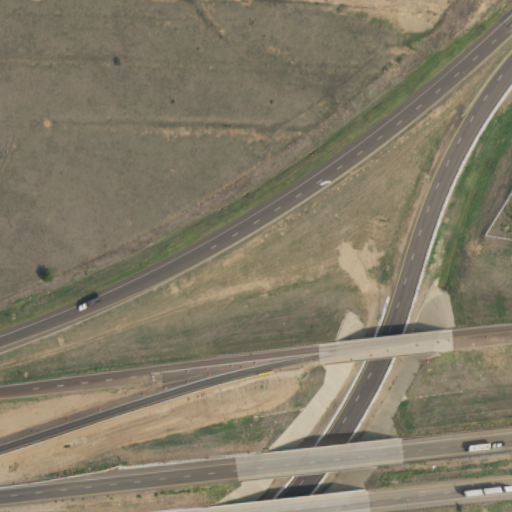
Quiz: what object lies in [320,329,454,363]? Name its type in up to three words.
overpass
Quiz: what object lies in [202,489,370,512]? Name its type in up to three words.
overpass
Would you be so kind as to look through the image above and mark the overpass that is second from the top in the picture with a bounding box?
[236,438,404,481]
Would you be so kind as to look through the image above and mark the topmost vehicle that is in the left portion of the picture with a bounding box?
[78,296,103,312]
